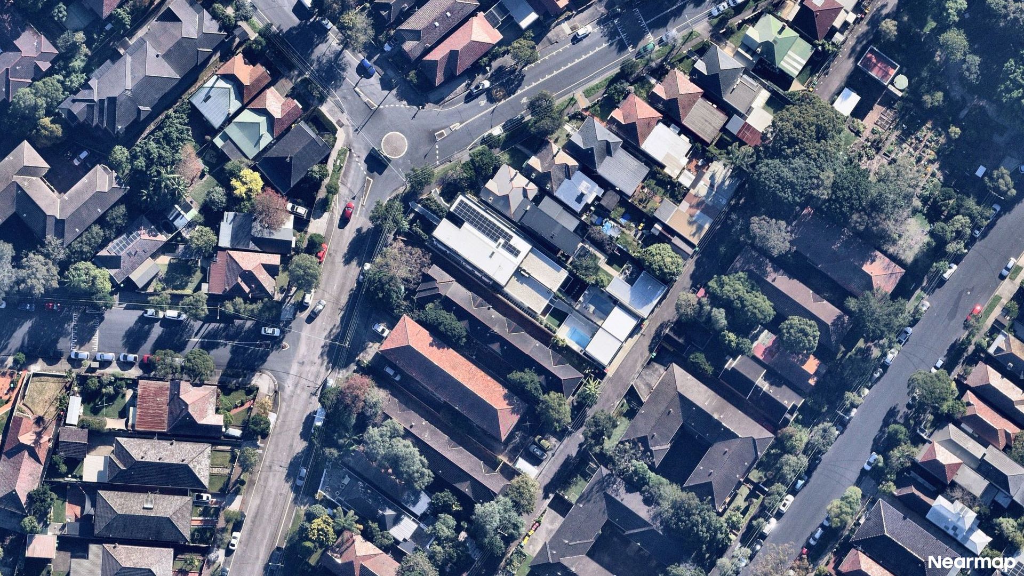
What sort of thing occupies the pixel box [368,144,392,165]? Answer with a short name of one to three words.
truck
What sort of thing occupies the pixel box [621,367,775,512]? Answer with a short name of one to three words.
building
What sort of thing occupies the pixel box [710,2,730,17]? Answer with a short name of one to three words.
car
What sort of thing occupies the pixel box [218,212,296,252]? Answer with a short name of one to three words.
house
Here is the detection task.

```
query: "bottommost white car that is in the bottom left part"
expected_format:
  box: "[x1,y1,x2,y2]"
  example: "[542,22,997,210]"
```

[228,530,241,551]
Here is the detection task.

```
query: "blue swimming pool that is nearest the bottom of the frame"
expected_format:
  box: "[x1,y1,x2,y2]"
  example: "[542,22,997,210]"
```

[565,325,592,350]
